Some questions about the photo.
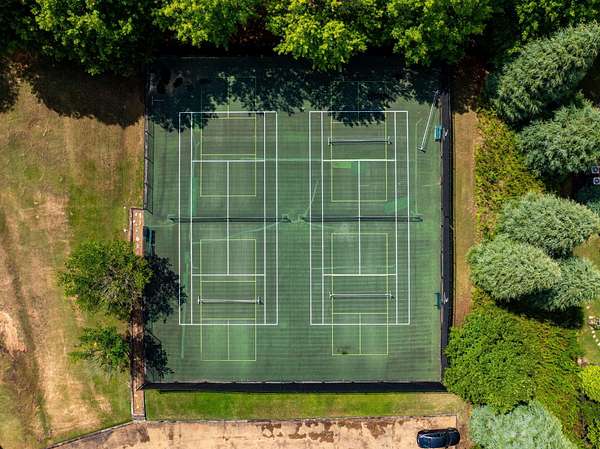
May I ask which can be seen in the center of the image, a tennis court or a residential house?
tennis court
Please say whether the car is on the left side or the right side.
right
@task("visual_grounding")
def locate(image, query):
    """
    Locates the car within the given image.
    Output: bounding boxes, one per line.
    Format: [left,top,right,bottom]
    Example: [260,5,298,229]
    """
[417,427,459,449]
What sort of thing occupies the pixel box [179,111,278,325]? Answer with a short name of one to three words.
tennis court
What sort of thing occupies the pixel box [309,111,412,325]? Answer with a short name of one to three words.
tennis court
